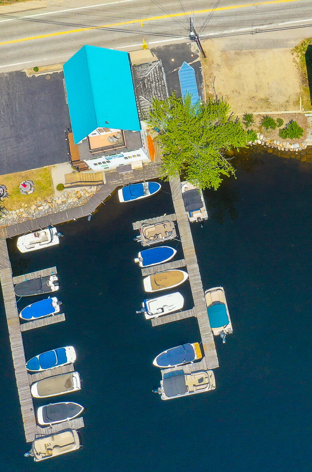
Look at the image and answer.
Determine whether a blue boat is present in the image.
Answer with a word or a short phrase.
Yes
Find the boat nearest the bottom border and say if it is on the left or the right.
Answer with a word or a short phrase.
left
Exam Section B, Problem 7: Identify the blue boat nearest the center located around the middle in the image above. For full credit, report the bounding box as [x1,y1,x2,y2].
[134,246,178,267]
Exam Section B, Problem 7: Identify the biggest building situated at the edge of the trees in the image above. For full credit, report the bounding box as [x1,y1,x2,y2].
[64,43,148,186]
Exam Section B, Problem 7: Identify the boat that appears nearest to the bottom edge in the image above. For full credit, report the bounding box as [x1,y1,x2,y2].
[26,426,82,462]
